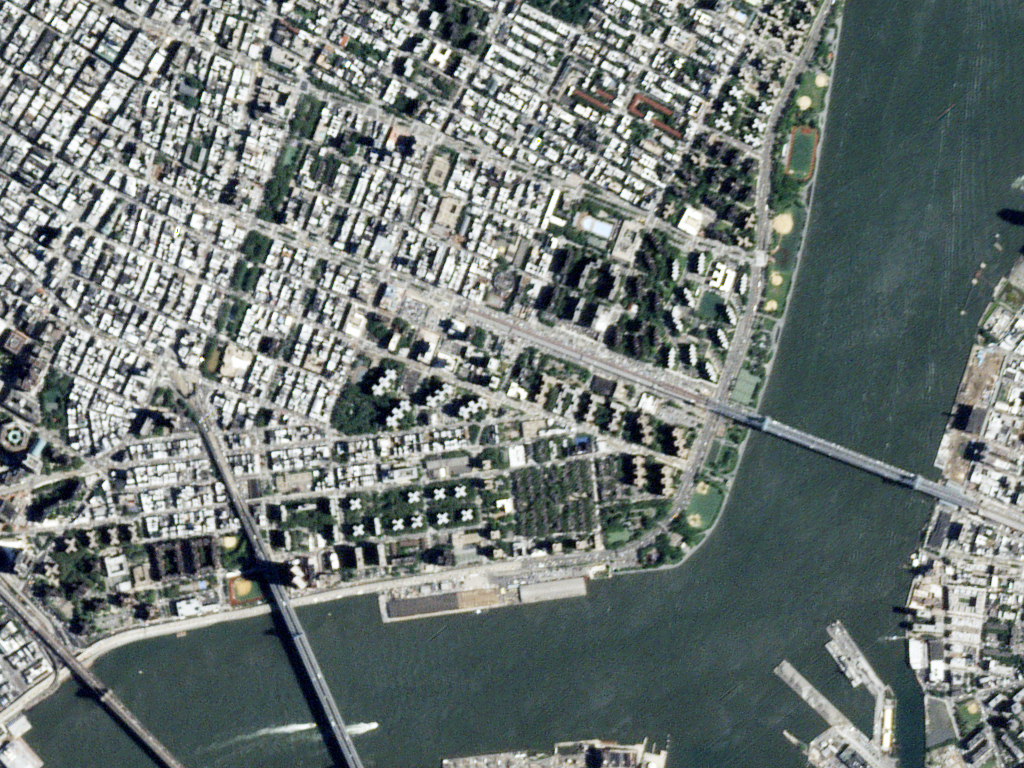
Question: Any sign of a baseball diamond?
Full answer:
Yes, this view includes a baseball diamond.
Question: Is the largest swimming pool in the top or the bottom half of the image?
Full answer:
The top half of the photo is where the largest swimming pool is.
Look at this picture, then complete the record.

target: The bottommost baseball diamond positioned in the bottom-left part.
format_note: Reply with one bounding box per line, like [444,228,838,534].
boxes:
[230,573,264,604]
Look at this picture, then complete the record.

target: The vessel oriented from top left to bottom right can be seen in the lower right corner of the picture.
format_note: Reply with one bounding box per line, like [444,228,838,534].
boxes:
[825,641,862,687]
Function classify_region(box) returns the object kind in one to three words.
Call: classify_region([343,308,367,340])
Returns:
building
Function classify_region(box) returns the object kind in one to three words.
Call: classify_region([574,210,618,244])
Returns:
swimming pool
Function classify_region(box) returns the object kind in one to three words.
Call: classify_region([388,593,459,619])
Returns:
shed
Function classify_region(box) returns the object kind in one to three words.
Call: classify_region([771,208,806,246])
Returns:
baseball field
